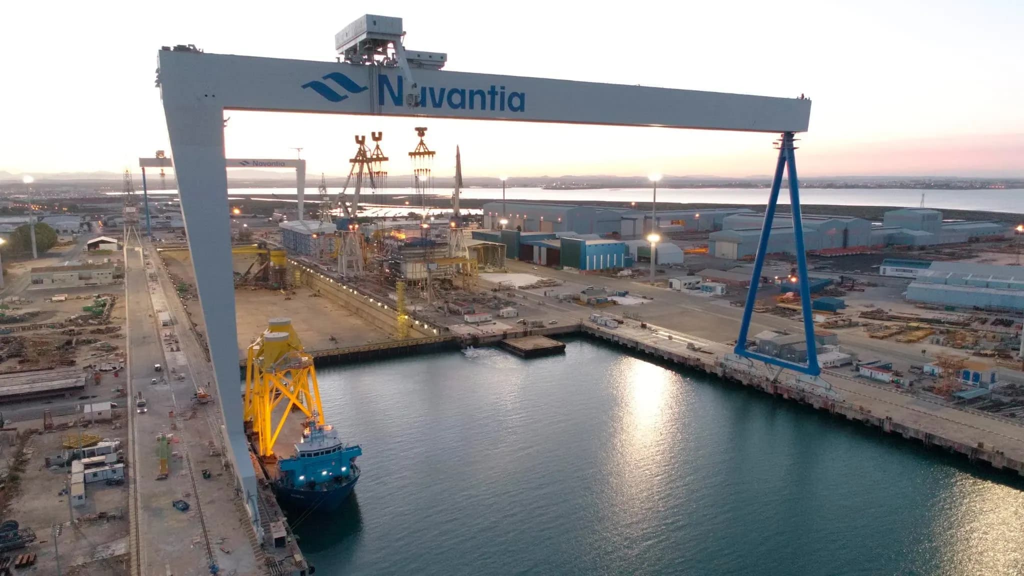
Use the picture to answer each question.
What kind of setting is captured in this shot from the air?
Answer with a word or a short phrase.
port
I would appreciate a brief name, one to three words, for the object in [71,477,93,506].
building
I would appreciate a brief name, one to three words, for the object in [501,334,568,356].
pier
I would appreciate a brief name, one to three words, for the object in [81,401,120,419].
shed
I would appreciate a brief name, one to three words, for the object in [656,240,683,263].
hangar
